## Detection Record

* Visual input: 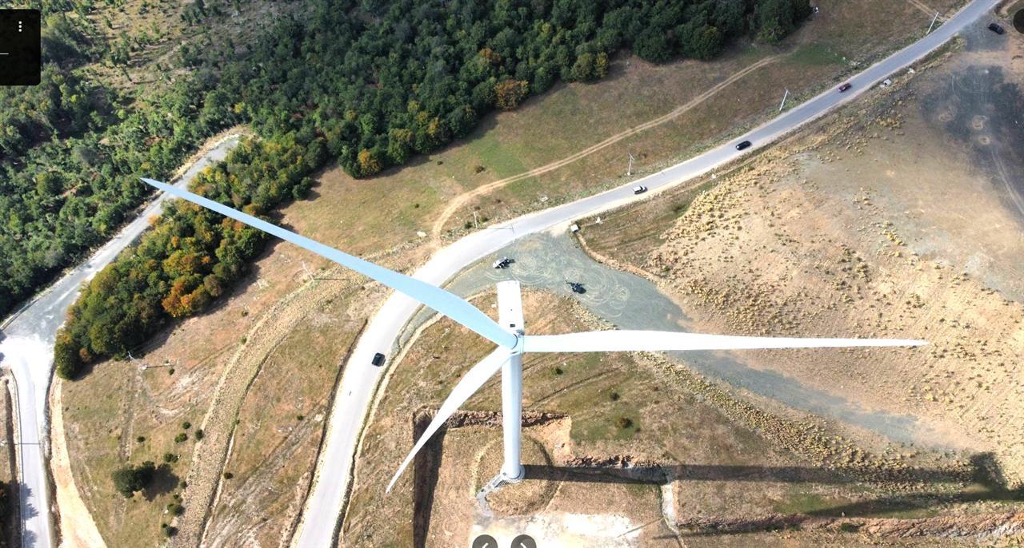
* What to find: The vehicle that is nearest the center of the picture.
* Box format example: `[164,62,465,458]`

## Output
[494,257,511,270]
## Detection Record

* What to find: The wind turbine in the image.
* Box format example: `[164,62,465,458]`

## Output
[143,176,927,490]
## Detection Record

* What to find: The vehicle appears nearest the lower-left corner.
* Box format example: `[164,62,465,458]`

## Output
[371,352,383,367]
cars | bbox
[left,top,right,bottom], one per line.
[736,141,752,151]
[632,185,647,194]
[838,82,852,92]
[566,280,583,294]
[494,257,511,270]
[371,352,383,367]
[990,23,1004,33]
